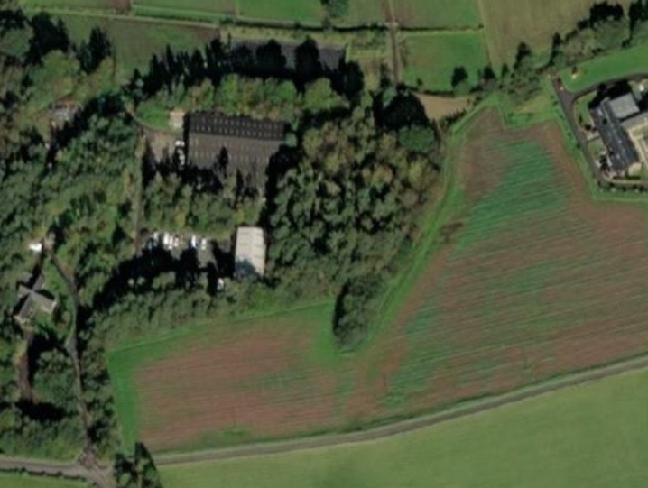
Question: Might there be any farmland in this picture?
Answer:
Yes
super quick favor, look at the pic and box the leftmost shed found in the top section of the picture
[54,104,78,125]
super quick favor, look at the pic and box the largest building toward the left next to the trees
[185,108,287,185]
